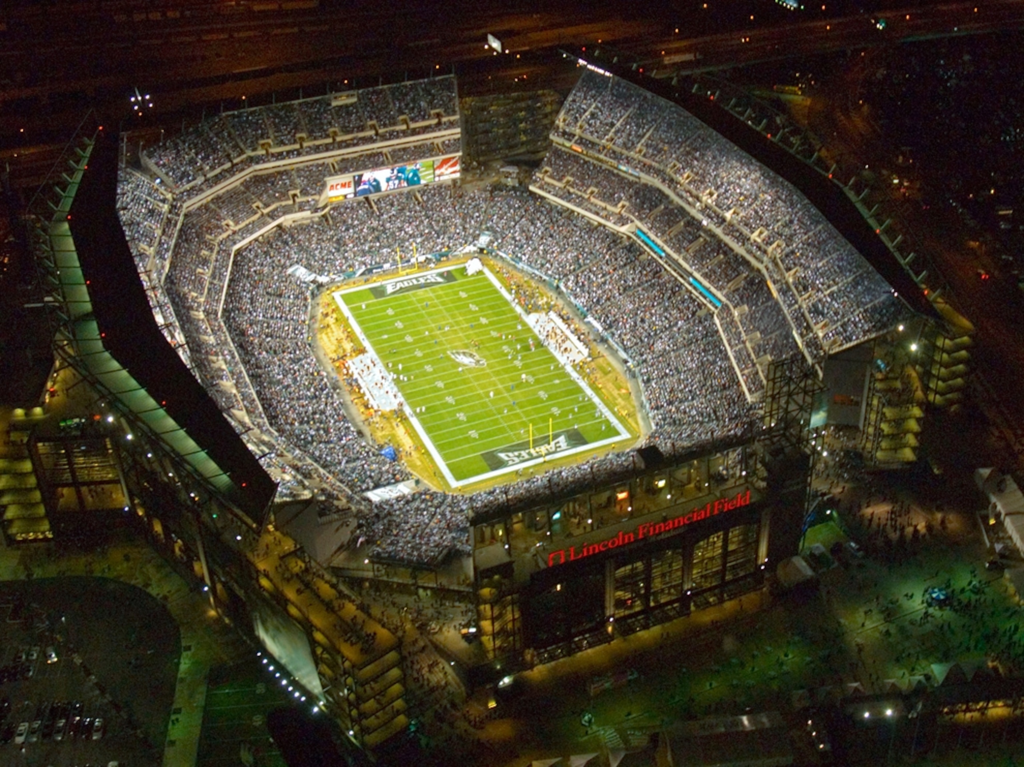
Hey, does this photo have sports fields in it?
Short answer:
Yes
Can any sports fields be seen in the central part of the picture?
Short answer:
Yes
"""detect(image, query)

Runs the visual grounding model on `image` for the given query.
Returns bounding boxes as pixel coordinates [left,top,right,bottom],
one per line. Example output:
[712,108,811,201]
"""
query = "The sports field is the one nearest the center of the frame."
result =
[340,265,621,481]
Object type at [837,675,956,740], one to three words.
building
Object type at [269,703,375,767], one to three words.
building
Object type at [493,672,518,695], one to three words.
vehicle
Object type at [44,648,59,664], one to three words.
car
